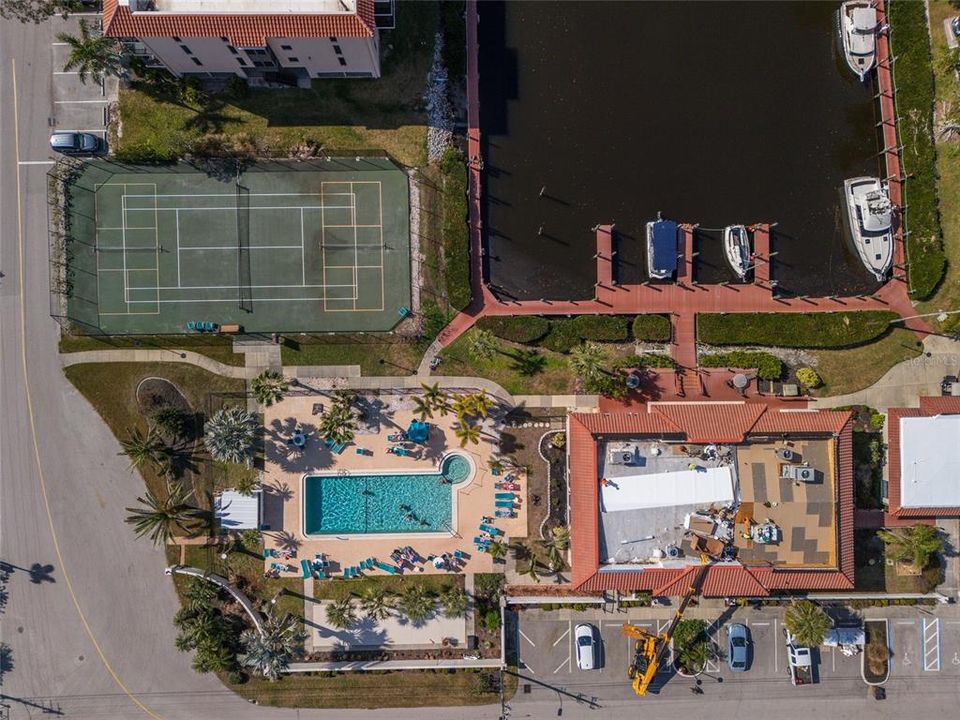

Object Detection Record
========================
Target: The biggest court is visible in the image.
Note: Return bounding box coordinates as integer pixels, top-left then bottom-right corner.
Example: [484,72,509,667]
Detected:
[67,159,411,333]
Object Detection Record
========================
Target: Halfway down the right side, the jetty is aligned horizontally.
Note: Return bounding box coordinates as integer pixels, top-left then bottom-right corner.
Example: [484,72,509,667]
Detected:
[501,278,933,340]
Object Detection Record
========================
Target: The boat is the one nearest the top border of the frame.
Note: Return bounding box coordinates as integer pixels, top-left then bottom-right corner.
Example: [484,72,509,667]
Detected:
[832,0,878,82]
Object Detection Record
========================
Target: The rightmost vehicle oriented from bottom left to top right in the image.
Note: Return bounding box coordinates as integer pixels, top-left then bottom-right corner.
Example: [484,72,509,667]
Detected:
[610,541,713,696]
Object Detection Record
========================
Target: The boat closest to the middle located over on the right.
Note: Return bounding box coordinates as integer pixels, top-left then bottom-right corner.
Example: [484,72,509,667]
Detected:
[647,216,681,279]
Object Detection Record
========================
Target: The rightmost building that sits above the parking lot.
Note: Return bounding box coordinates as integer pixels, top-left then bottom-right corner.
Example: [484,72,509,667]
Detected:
[880,396,960,518]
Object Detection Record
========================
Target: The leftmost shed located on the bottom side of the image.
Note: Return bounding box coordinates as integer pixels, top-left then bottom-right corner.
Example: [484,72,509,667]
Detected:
[214,489,264,530]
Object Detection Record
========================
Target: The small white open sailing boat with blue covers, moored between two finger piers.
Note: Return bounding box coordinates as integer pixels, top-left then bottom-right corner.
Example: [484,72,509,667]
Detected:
[726,224,753,281]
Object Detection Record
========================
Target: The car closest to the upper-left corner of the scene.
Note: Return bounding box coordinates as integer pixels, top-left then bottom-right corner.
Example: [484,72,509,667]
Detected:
[47,128,100,153]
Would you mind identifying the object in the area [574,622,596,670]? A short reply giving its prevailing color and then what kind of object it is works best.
white car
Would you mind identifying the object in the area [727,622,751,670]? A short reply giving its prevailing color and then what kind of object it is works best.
blue car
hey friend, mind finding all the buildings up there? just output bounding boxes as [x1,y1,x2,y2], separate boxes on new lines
[214,489,264,530]
[880,396,960,518]
[568,401,855,597]
[102,0,404,88]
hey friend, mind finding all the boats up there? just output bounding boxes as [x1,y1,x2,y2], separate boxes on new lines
[647,216,681,279]
[832,0,878,82]
[726,224,753,281]
[834,171,892,281]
